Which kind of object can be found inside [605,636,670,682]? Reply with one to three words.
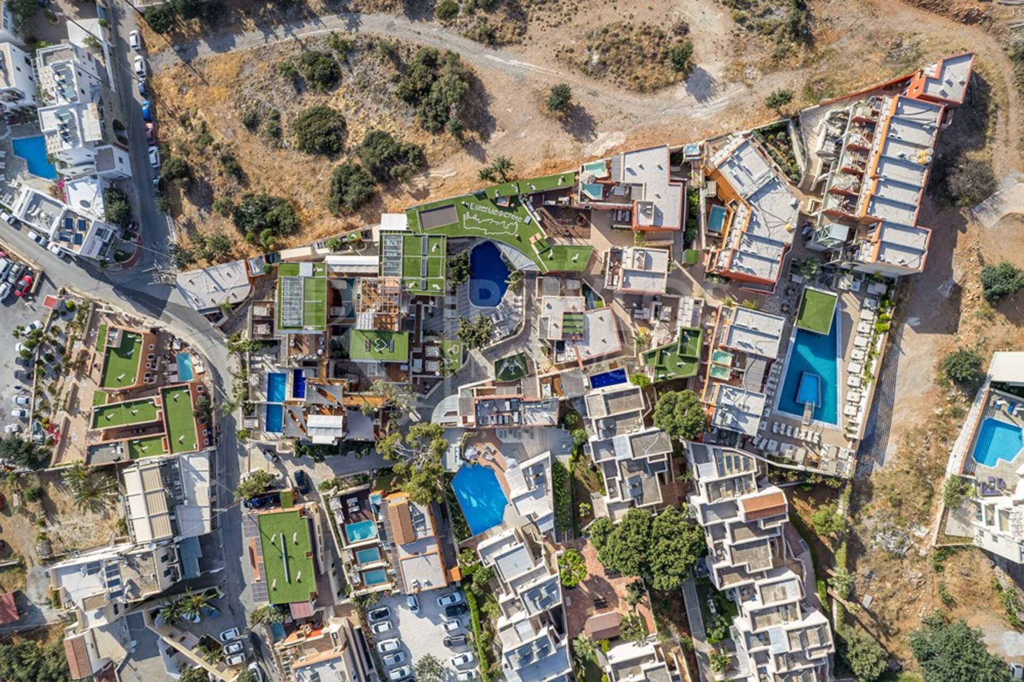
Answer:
house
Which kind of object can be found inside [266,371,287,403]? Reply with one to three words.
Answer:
swimming pool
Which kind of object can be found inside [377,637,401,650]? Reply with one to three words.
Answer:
vehicle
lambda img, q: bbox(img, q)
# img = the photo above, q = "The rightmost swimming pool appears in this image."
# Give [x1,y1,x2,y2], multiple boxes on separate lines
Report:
[970,416,1024,470]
